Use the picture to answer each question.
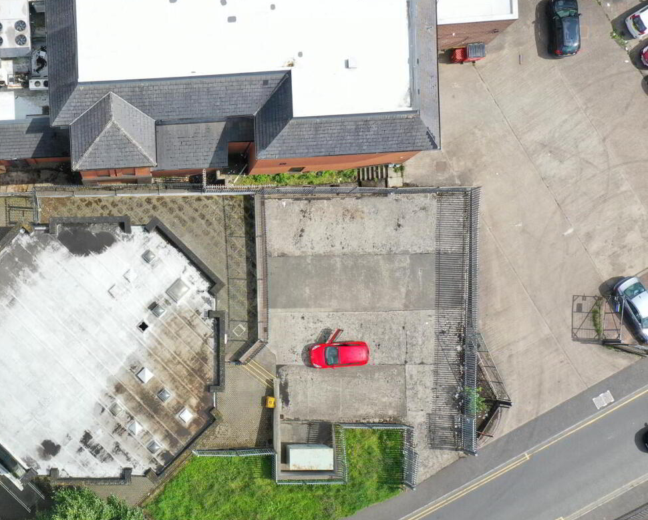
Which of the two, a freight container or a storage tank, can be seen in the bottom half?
freight container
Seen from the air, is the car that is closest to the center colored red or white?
red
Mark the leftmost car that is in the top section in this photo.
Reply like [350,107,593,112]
[543,0,581,59]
